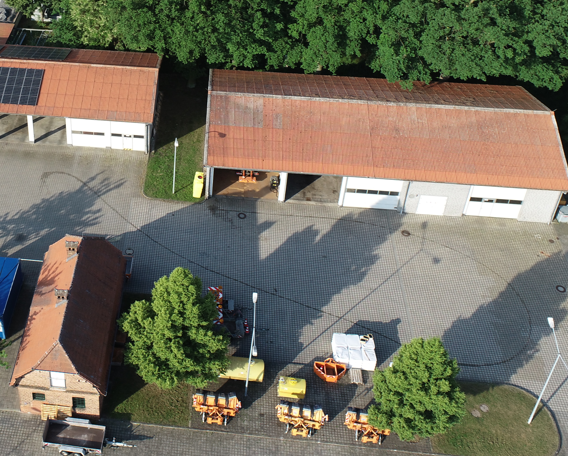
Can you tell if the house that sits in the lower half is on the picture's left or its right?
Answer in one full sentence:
The house that sits in the lower half appears in the left half of the scene.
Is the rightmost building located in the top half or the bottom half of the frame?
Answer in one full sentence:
It is in the top half that the rightmost building appears.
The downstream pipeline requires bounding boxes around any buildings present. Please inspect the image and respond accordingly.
[203,67,568,226]
[8,233,130,421]
[0,44,162,153]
